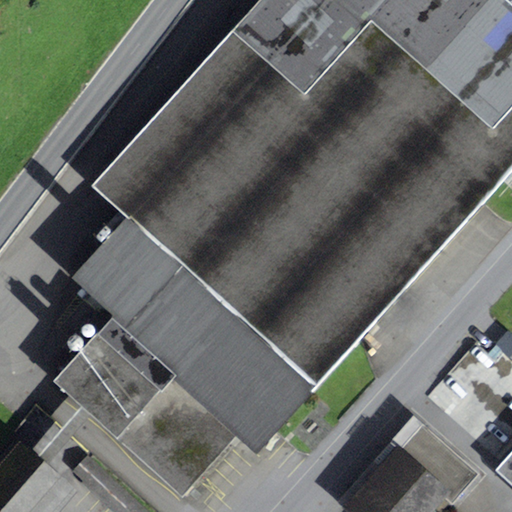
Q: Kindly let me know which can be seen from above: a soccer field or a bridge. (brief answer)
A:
bridge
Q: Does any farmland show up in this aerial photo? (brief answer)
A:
No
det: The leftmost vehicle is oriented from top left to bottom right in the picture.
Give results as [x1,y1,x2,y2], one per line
[444,378,466,399]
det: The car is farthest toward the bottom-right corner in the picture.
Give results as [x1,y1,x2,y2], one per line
[487,423,509,444]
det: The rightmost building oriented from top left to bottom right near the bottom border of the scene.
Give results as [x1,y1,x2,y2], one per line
[394,416,478,504]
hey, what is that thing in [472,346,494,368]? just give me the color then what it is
white vehicle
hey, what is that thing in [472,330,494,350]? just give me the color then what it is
gray car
